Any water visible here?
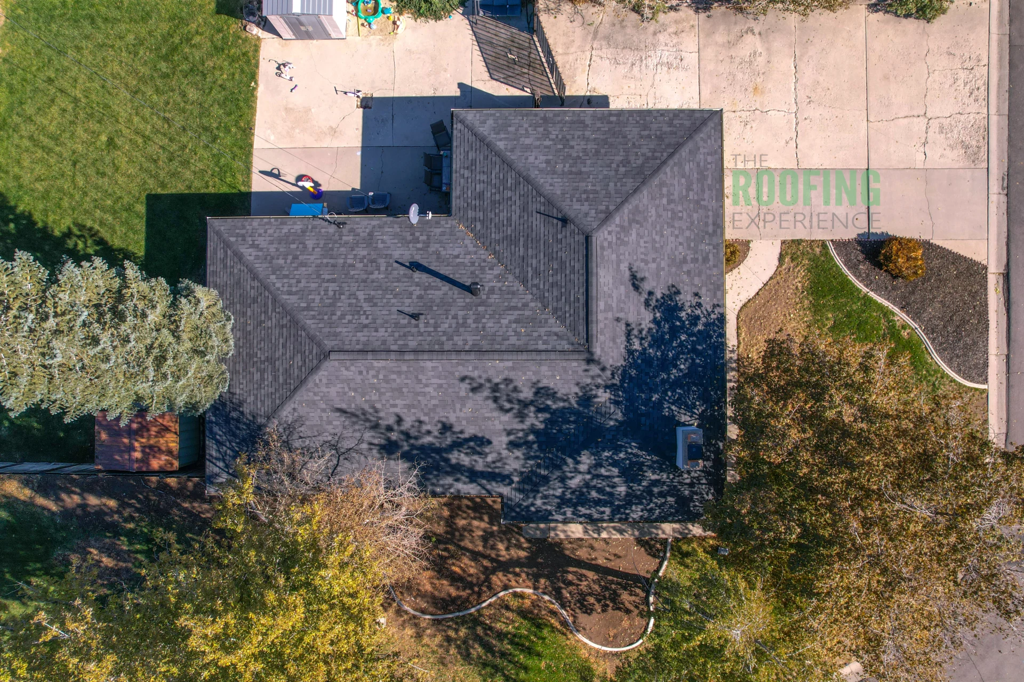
No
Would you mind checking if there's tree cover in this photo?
Yes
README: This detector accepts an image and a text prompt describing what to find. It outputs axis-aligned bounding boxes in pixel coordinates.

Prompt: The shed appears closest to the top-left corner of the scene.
[263,0,347,39]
